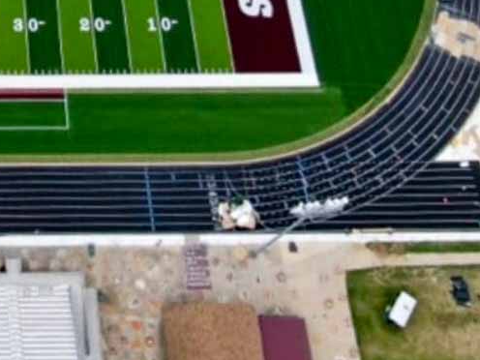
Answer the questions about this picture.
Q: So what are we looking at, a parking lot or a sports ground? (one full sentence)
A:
This looks like a sports ground.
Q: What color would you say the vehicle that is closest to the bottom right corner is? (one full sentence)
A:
The color of the vehicle that is closest to the bottom right corner is black.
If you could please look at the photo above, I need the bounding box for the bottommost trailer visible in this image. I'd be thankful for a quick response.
[384,293,415,329]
